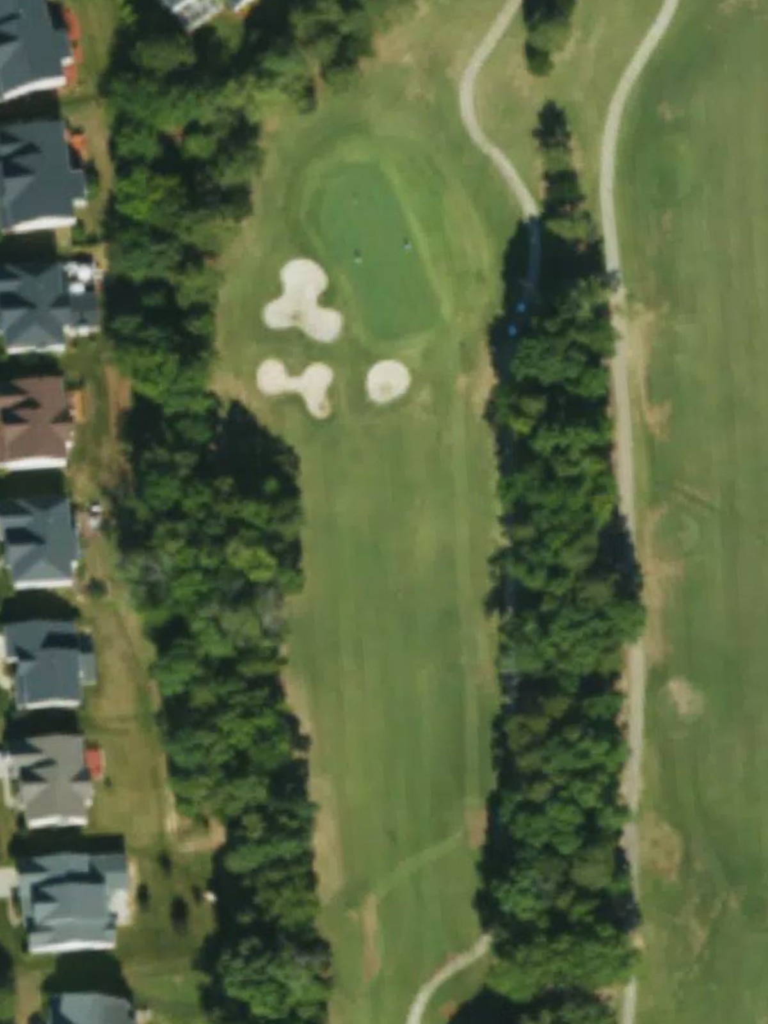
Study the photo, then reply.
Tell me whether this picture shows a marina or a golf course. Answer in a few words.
golf course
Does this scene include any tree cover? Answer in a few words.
Yes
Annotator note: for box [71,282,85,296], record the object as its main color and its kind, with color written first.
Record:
white umbrella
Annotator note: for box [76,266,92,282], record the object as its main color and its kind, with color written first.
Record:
white umbrella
